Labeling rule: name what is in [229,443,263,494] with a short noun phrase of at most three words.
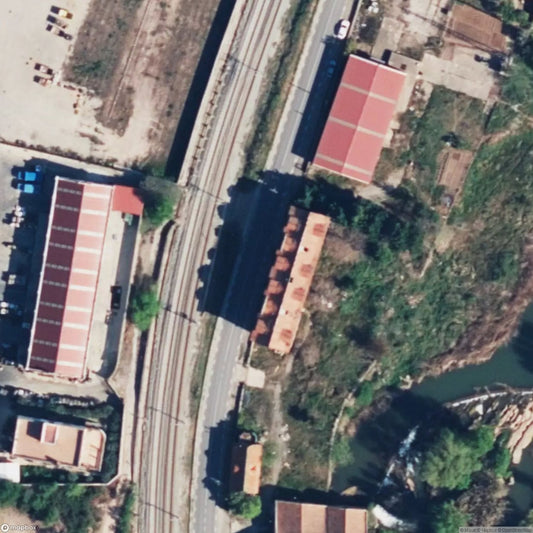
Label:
house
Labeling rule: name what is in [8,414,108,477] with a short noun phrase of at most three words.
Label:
house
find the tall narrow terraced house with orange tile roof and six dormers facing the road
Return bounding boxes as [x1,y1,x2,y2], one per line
[251,204,332,355]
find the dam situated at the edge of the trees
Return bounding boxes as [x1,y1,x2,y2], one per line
[371,388,533,506]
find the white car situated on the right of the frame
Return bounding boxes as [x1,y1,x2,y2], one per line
[336,18,350,39]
